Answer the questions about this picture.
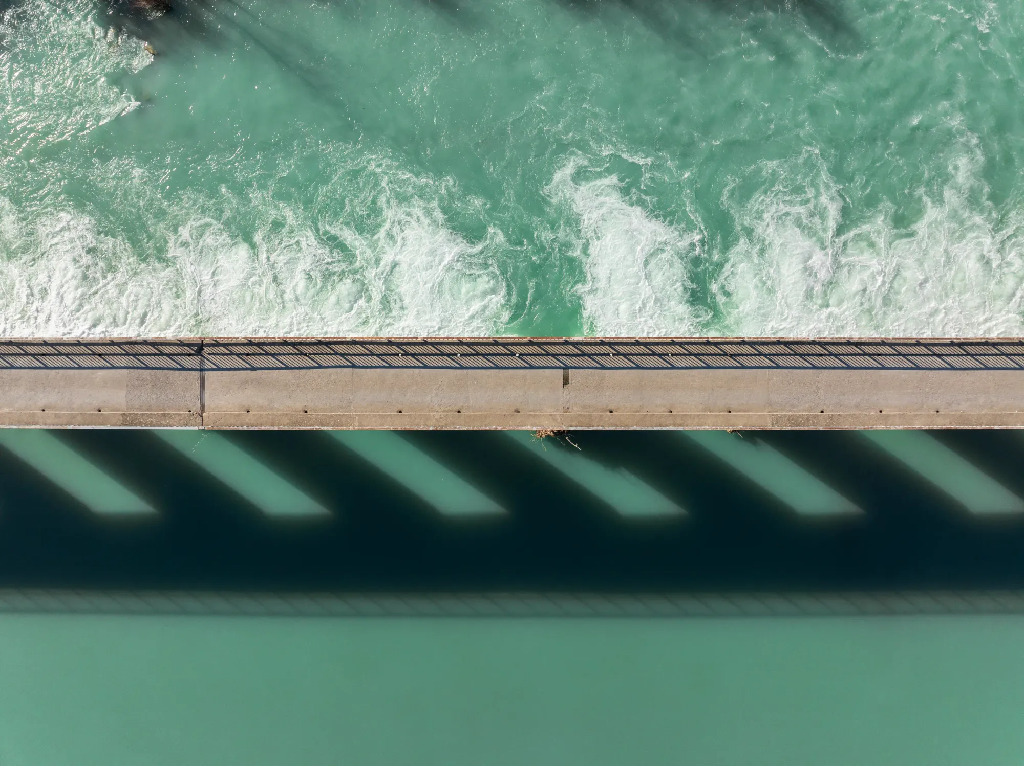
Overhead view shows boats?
No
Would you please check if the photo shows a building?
No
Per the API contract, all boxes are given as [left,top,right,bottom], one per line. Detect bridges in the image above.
[0,339,1024,428]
